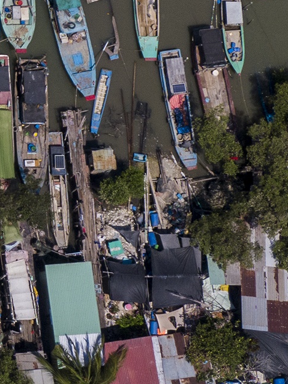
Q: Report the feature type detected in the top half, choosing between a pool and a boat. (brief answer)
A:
boat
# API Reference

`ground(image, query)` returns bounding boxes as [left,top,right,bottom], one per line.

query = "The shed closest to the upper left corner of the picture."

[86,146,116,170]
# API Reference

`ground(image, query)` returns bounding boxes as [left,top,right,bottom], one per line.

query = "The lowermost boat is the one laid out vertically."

[47,132,70,247]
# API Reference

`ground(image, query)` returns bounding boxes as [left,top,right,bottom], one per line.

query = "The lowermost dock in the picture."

[70,173,102,284]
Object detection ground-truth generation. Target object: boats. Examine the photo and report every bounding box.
[131,0,160,61]
[217,0,246,74]
[0,55,16,181]
[14,59,50,191]
[88,68,112,132]
[0,0,36,54]
[187,28,236,143]
[156,49,197,170]
[43,0,96,101]
[47,132,70,247]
